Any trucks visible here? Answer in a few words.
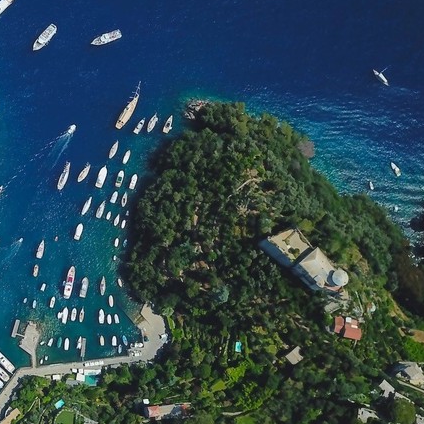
No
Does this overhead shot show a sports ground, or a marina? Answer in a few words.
marina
